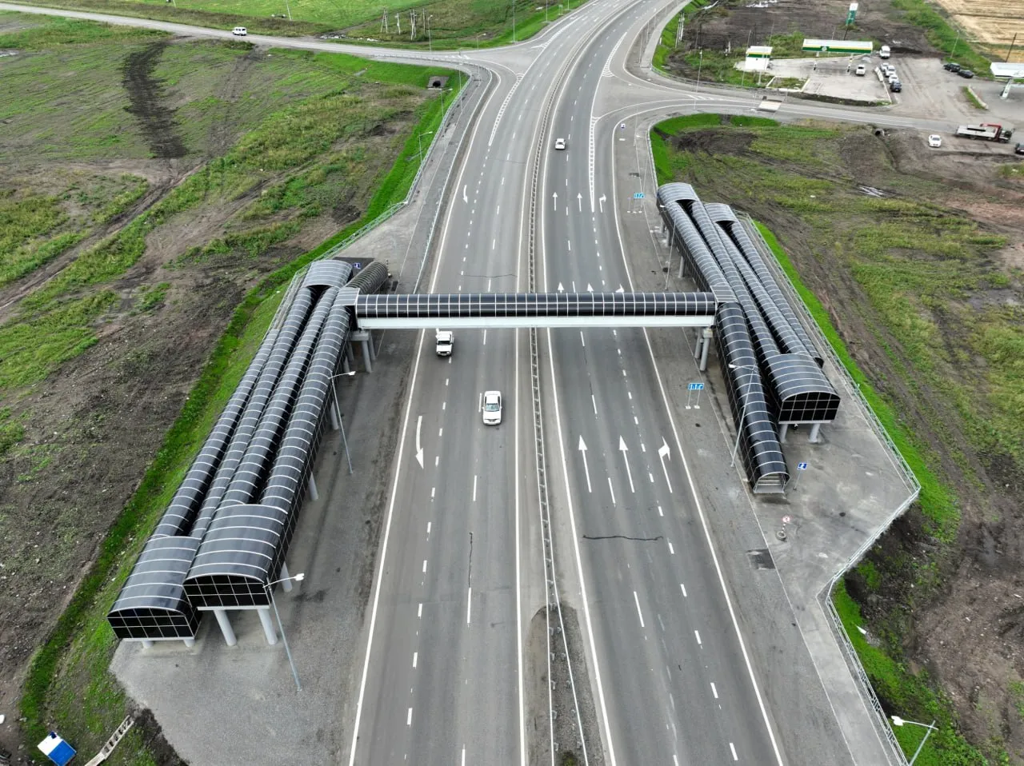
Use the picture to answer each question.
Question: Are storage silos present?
No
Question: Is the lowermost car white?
Yes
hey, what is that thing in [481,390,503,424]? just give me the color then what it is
white car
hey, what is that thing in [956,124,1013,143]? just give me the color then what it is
white vehicle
